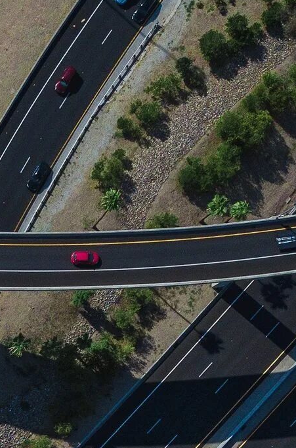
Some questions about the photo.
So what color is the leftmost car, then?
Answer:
black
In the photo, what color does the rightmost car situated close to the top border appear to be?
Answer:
black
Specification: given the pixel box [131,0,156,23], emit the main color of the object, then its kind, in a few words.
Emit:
black car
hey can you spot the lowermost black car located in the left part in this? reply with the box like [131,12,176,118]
[28,160,51,193]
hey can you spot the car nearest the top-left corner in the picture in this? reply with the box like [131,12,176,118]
[54,64,76,95]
